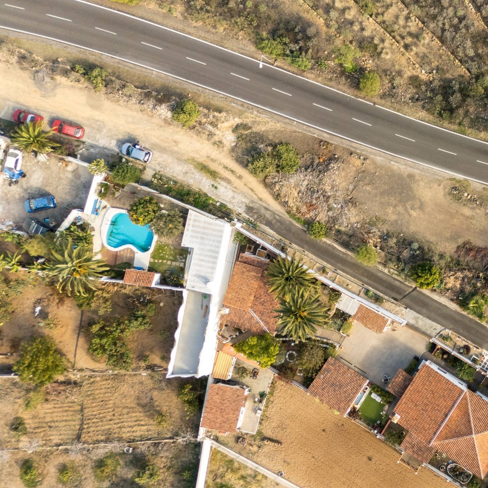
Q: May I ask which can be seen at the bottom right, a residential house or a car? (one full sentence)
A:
You can see a residential house at the bottom right.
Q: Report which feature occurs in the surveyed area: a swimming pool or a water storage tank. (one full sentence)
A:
Visible in the photo is a swimming pool.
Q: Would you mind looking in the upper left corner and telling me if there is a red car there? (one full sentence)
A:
Yes, you'll find a red car in the upper left corner.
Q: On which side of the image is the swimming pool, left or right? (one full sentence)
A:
The swimming pool sits on the left side.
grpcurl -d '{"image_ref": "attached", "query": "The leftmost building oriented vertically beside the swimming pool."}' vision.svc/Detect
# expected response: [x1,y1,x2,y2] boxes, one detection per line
[168,210,247,380]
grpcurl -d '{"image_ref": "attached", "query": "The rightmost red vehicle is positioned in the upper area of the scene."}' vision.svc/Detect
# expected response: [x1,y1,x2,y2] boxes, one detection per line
[54,118,87,139]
